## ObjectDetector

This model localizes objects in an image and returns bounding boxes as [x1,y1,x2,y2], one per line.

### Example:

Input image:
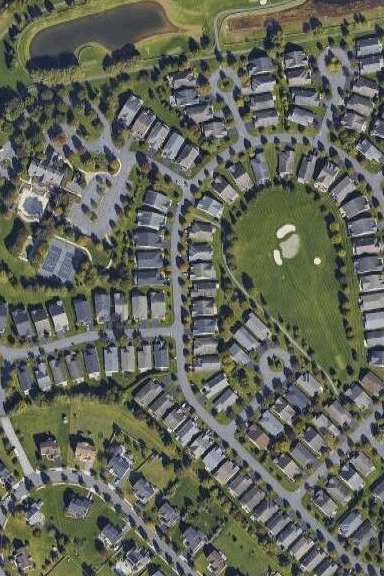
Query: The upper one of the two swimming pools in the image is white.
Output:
[19,185,49,223]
